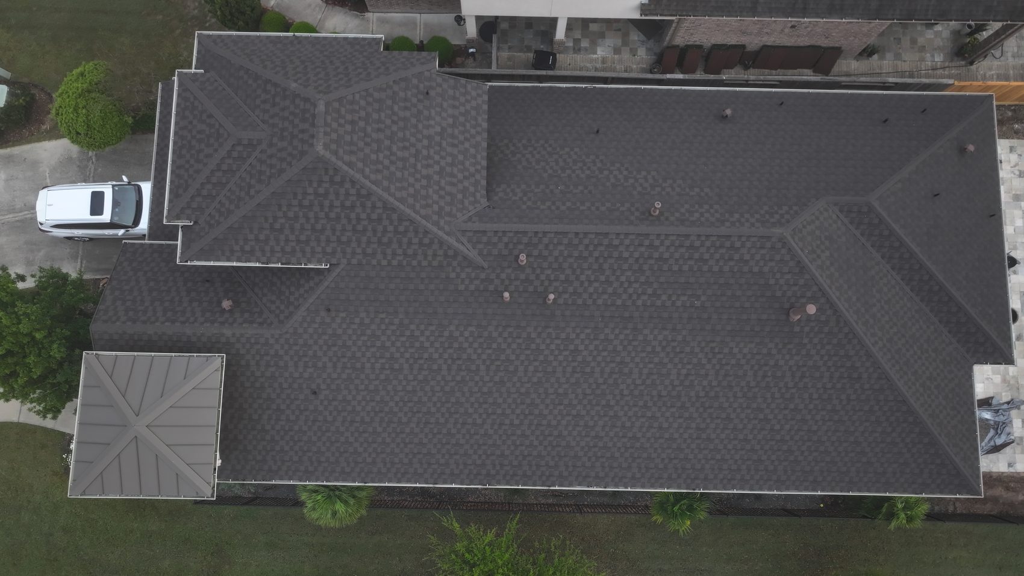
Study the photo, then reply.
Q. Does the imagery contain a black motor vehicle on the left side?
No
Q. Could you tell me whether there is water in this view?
No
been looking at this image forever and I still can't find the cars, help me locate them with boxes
[34,177,149,239]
